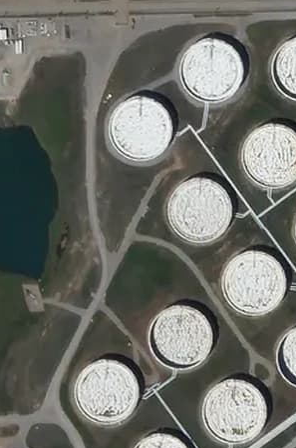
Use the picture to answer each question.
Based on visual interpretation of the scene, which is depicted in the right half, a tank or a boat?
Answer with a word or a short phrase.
tank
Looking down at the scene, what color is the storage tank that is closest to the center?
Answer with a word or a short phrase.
white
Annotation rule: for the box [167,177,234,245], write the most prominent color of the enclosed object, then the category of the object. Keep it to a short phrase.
white storage tank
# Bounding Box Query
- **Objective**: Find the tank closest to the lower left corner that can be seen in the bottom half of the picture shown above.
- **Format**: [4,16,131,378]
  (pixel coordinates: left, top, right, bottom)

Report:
[73,358,140,426]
